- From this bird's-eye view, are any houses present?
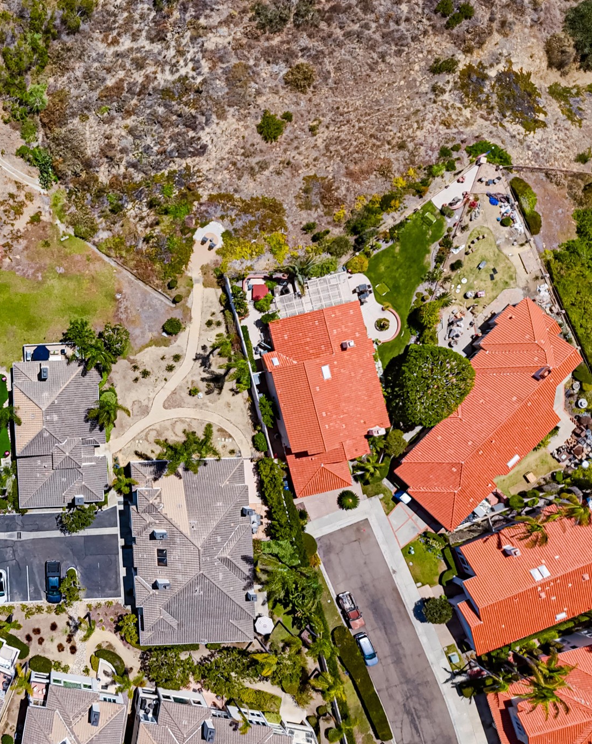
Yes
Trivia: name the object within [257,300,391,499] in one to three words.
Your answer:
house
